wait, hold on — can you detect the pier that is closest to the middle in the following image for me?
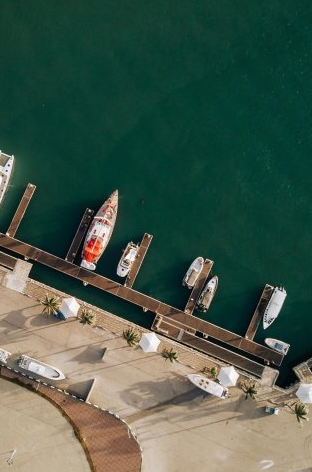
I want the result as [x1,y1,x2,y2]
[123,233,153,289]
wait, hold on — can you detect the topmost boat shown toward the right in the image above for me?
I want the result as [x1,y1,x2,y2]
[186,258,203,287]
